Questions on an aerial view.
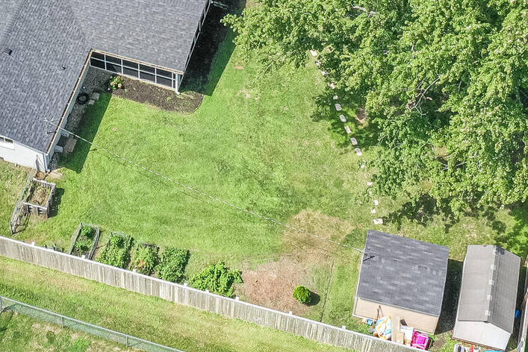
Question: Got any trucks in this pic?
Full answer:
No, the picture doesn't show any truck.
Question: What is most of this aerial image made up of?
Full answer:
The scene is dominated by grass.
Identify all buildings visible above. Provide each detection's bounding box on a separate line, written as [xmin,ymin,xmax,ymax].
[452,247,522,347]
[354,233,449,333]
[0,0,228,180]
